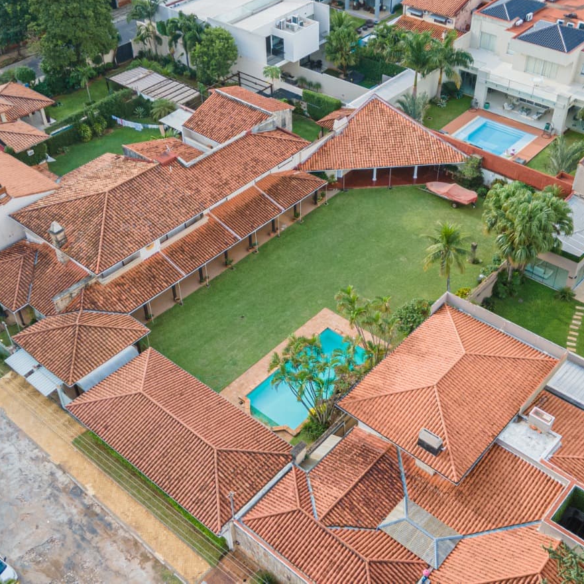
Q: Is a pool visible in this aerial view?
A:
Yes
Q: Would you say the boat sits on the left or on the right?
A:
right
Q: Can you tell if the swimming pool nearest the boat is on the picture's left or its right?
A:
right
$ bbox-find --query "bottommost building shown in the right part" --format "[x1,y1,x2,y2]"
[240,301,584,584]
